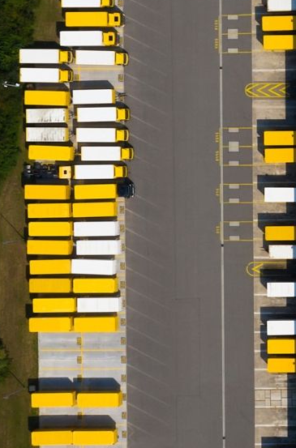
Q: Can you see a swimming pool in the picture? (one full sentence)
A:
No, I can see no swimming pool in this picture.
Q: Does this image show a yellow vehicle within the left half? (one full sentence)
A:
Yes, looking within the left half, one can make out a yellow vehicle.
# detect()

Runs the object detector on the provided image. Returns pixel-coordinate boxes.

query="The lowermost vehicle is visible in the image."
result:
[74,183,134,200]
